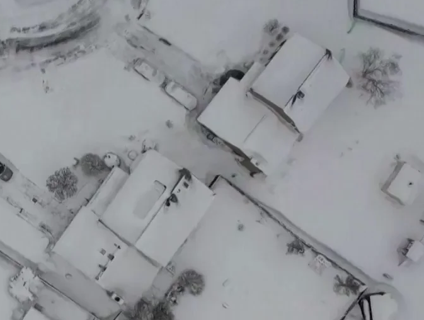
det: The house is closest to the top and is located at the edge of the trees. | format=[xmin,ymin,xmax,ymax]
[195,33,351,176]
